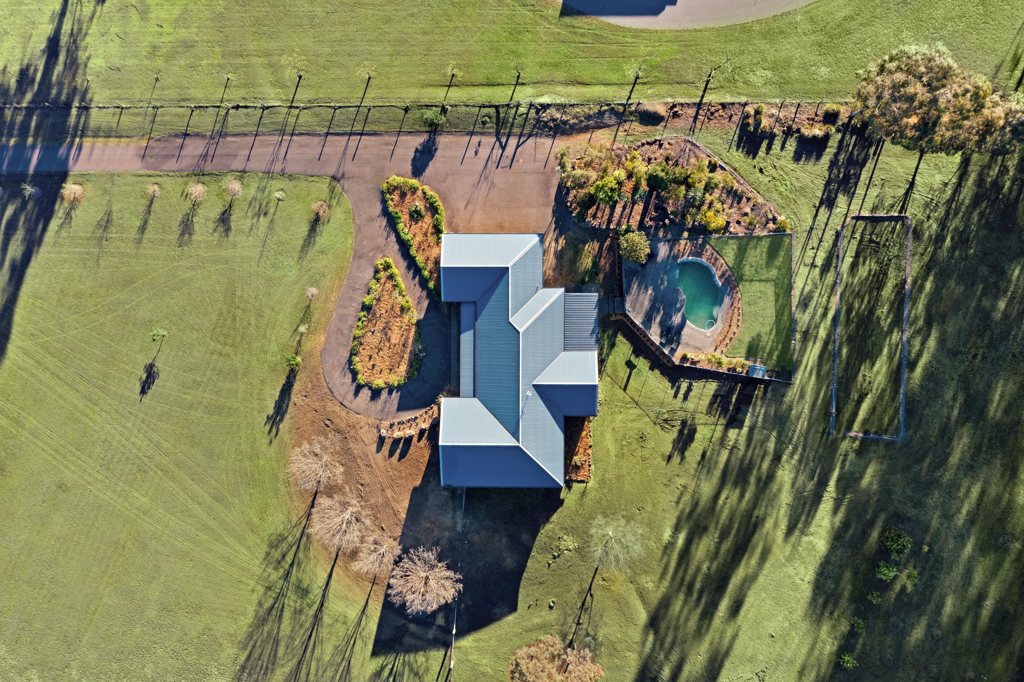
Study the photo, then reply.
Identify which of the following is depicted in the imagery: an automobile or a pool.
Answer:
pool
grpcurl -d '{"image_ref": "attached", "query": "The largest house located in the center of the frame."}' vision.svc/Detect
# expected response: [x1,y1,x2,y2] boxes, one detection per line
[437,231,602,488]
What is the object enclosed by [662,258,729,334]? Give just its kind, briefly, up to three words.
swimming pool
